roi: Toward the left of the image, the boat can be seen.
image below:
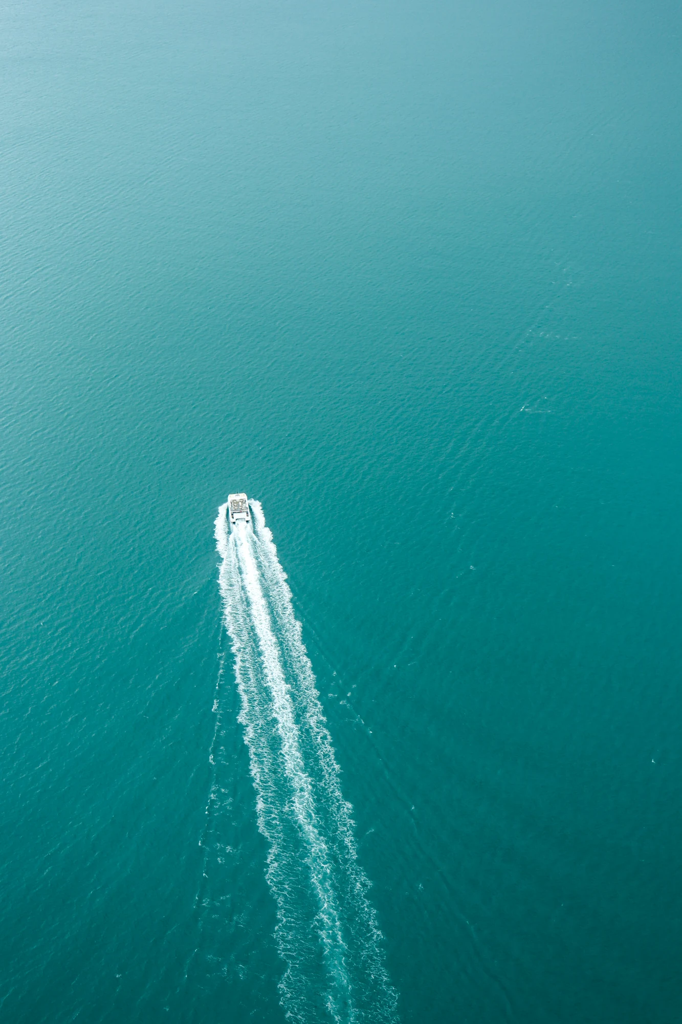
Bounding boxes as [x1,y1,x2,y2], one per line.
[230,491,250,523]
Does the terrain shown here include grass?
No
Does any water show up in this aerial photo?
Yes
